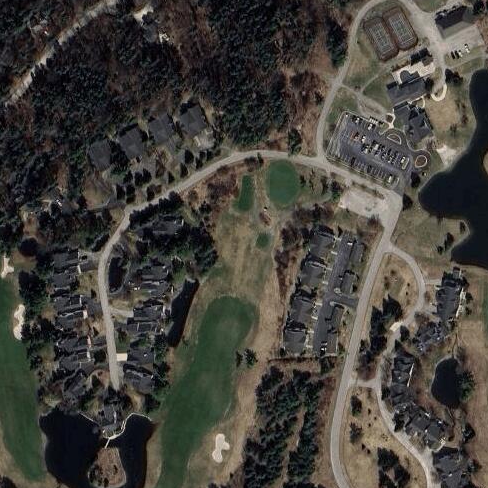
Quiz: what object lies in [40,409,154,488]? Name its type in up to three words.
pond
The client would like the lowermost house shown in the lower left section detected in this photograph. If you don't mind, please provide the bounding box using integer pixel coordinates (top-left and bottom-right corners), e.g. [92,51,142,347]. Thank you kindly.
[99,408,120,436]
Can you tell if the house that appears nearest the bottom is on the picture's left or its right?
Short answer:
right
